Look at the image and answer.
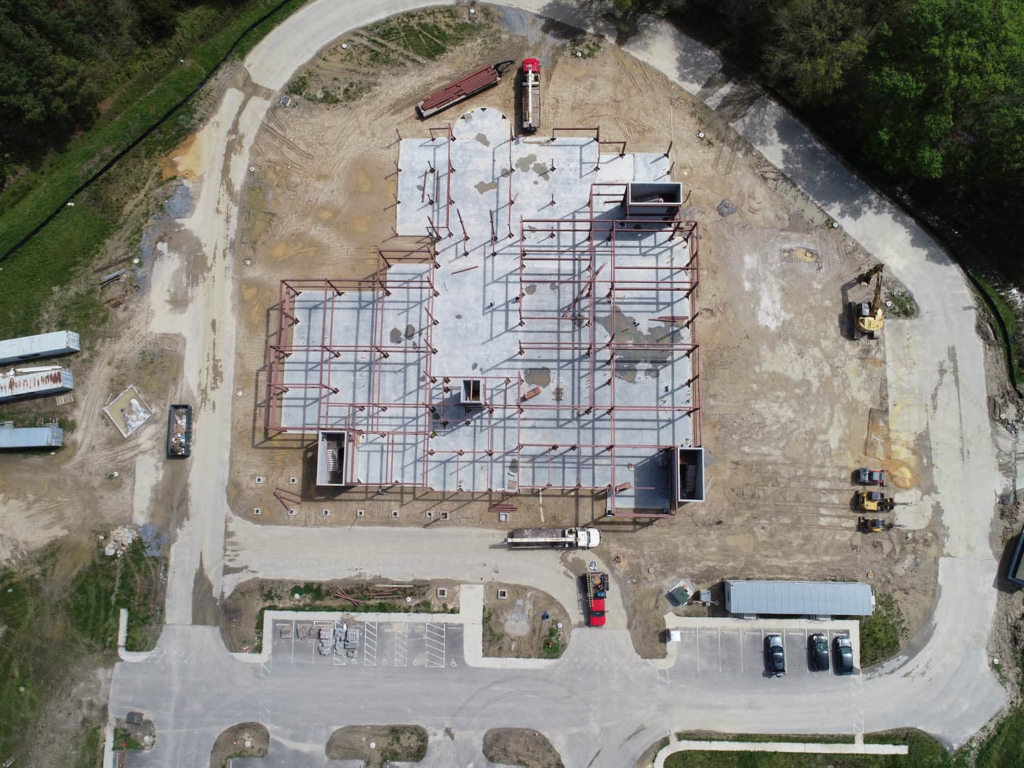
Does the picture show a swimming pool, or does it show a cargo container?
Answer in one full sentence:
This aerial view contains a cargo container.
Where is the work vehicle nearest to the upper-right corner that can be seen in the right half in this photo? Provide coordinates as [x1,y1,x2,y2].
[854,263,886,340]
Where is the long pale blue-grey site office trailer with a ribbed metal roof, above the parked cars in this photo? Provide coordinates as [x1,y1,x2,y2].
[725,580,873,615]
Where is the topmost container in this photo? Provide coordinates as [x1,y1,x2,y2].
[0,331,80,362]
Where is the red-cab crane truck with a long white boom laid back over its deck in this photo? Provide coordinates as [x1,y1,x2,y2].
[521,62,544,131]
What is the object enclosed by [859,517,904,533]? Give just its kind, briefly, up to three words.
work vehicle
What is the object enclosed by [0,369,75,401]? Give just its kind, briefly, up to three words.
shipping container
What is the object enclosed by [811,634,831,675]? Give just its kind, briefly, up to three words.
car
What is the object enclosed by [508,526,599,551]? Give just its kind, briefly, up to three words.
truck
